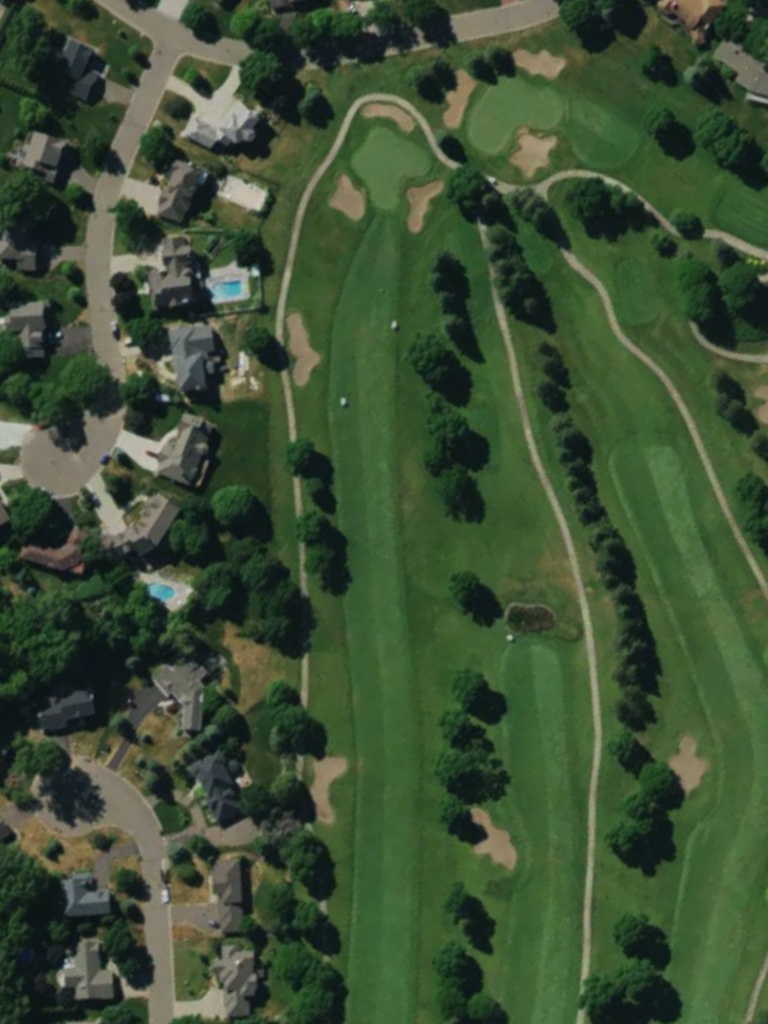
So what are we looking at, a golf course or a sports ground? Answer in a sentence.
The picture captures a golf course.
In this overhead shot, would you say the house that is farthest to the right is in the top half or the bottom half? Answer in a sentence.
The top half of the photo is where the house that is farthest to the right is.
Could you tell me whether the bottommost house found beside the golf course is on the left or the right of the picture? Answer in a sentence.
You can find the bottommost house found beside the golf course on the left side of the picture.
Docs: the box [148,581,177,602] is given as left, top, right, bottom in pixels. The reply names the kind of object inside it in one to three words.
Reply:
swimming pool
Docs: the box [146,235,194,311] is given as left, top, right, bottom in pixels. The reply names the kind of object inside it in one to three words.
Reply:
house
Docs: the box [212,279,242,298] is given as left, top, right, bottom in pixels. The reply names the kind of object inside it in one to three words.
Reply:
swimming pool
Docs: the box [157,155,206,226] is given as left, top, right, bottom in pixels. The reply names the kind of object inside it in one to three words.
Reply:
house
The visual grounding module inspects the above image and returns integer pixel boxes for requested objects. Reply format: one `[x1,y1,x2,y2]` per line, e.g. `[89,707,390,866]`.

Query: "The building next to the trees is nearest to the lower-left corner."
[56,940,115,1001]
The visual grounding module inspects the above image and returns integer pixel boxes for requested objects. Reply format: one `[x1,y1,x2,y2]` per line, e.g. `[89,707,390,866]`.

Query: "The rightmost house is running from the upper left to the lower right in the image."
[709,42,768,101]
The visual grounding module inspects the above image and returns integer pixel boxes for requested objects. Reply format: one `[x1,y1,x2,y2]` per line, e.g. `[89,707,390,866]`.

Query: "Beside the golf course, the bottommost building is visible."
[208,944,261,1018]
